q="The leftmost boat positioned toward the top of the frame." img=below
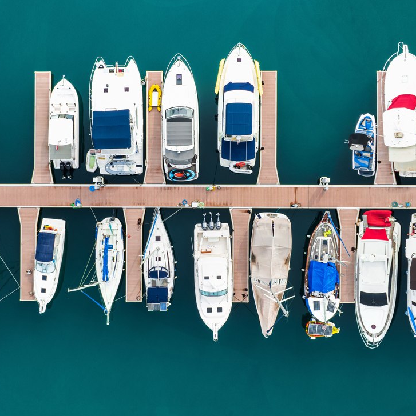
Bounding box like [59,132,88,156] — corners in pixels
[49,75,81,180]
